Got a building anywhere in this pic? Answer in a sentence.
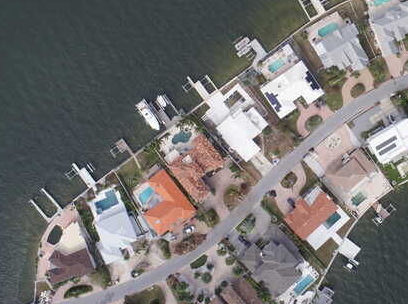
Yes, there is a building in the image.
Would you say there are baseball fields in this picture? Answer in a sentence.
No, no baseball field is visible in the scene.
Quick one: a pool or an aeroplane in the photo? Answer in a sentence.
There is a pool in the scene.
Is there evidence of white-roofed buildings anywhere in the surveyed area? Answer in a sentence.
Yes, you can see a white-roofed building in this photo.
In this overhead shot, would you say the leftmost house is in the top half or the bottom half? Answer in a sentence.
Seen from above, the leftmost house lies in the bottom half of the view.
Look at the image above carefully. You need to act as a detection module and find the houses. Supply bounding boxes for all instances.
[285,187,339,241]
[372,2,408,58]
[261,62,324,119]
[90,202,137,265]
[201,92,268,162]
[368,118,408,166]
[316,23,368,77]
[48,221,96,284]
[212,276,266,304]
[241,232,310,295]
[145,170,196,235]
[166,134,224,203]
[324,148,380,203]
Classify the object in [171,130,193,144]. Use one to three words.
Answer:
swimming pool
